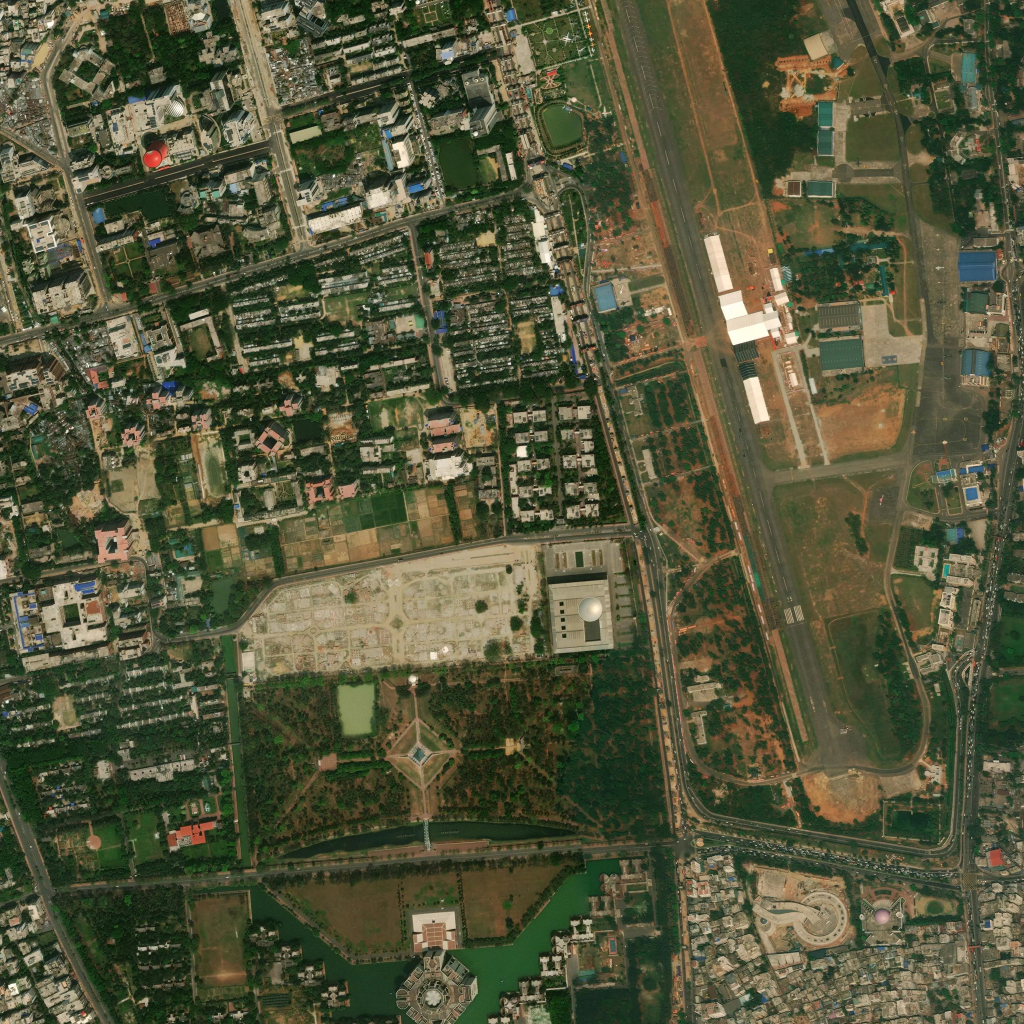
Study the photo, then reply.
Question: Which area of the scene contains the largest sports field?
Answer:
bottom left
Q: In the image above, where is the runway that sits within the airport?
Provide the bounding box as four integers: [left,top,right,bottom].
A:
[613,0,843,760]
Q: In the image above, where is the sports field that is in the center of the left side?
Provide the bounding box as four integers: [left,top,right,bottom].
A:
[199,432,225,496]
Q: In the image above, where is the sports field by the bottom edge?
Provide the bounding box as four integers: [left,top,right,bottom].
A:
[195,895,247,987]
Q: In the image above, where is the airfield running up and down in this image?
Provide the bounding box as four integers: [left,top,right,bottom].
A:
[613,0,985,783]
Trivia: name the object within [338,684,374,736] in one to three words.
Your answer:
pond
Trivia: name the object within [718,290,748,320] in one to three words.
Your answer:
tent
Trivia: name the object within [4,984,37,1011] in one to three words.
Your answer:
building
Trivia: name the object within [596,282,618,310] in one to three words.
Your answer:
hangar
